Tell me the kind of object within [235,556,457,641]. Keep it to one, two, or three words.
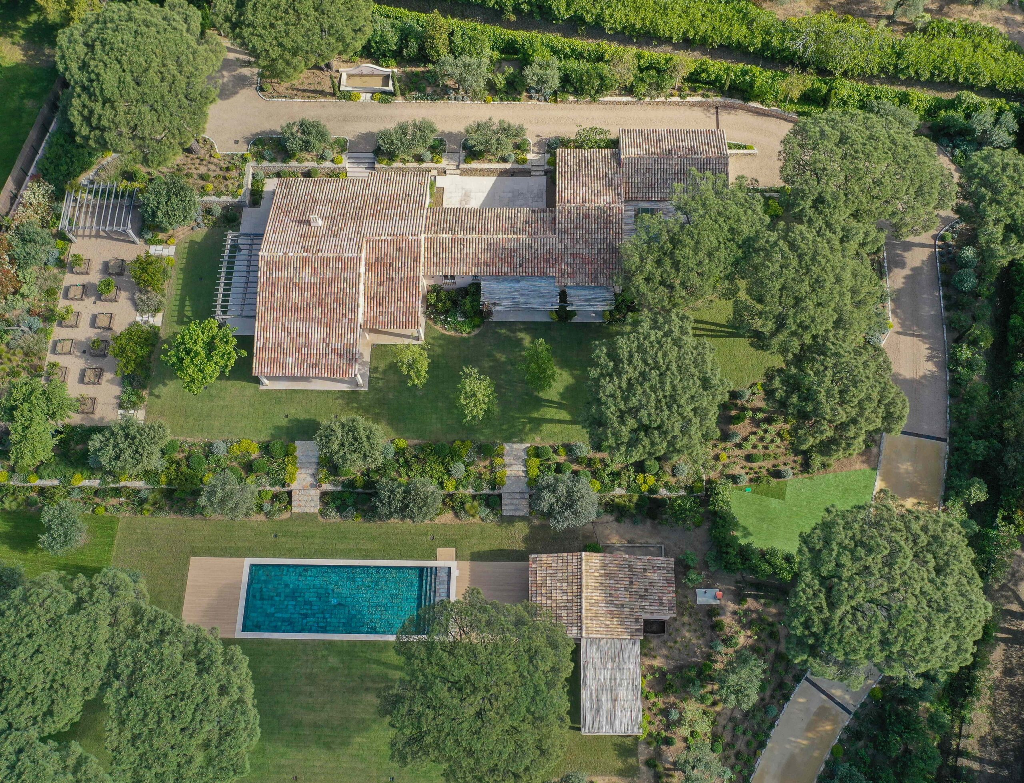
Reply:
swimming pool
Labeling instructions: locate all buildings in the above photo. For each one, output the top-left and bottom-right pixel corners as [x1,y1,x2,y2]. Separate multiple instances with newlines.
[252,126,731,390]
[527,551,679,640]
